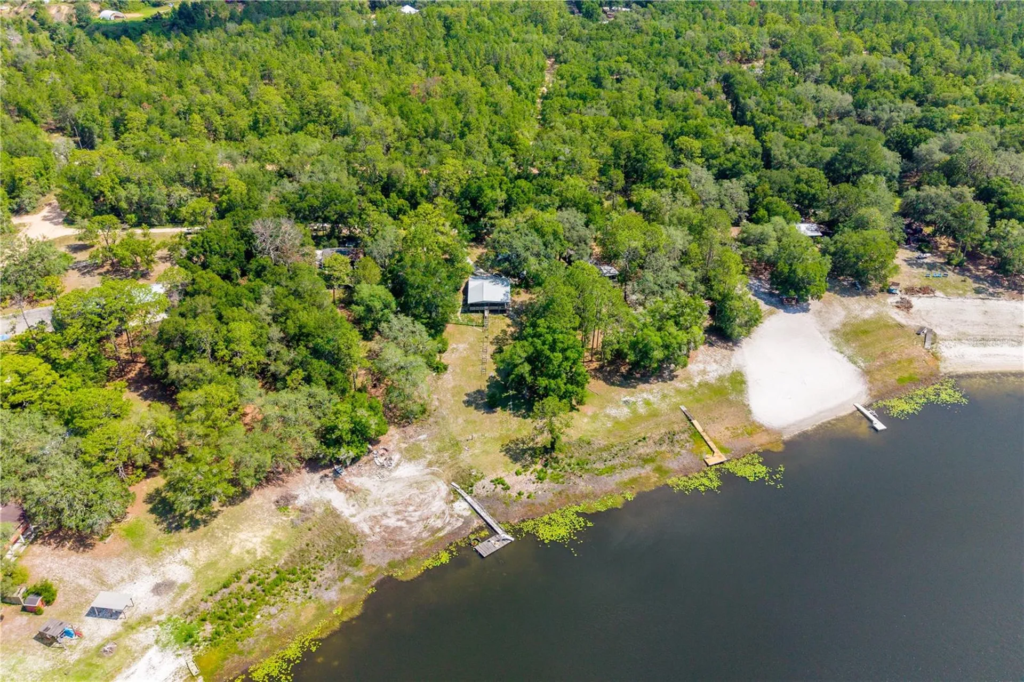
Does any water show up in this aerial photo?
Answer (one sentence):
Yes, some water is visible.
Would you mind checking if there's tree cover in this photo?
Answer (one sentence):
Yes, there's tree cover in this view.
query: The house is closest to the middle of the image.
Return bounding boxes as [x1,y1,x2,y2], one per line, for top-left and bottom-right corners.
[469,275,511,320]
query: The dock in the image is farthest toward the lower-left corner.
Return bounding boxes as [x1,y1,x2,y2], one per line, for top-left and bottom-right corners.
[450,482,514,561]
